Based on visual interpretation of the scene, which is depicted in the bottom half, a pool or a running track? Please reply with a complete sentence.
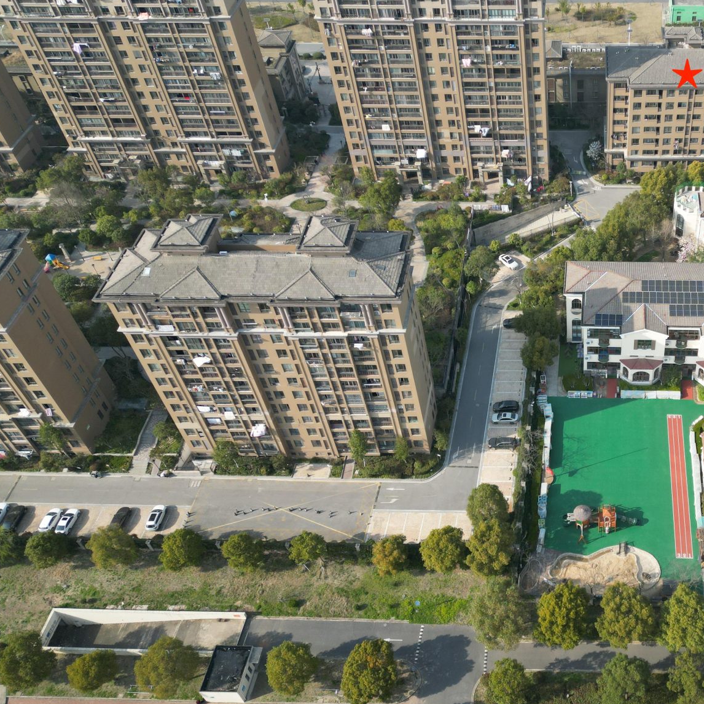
It is a running track that can be seen in the bottom half.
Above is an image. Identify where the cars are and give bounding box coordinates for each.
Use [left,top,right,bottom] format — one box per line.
[490,411,520,425]
[490,400,520,412]
[490,437,521,452]
[2,502,27,529]
[36,506,63,532]
[501,317,527,330]
[56,507,80,532]
[143,504,166,535]
[0,500,12,518]
[112,505,135,530]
